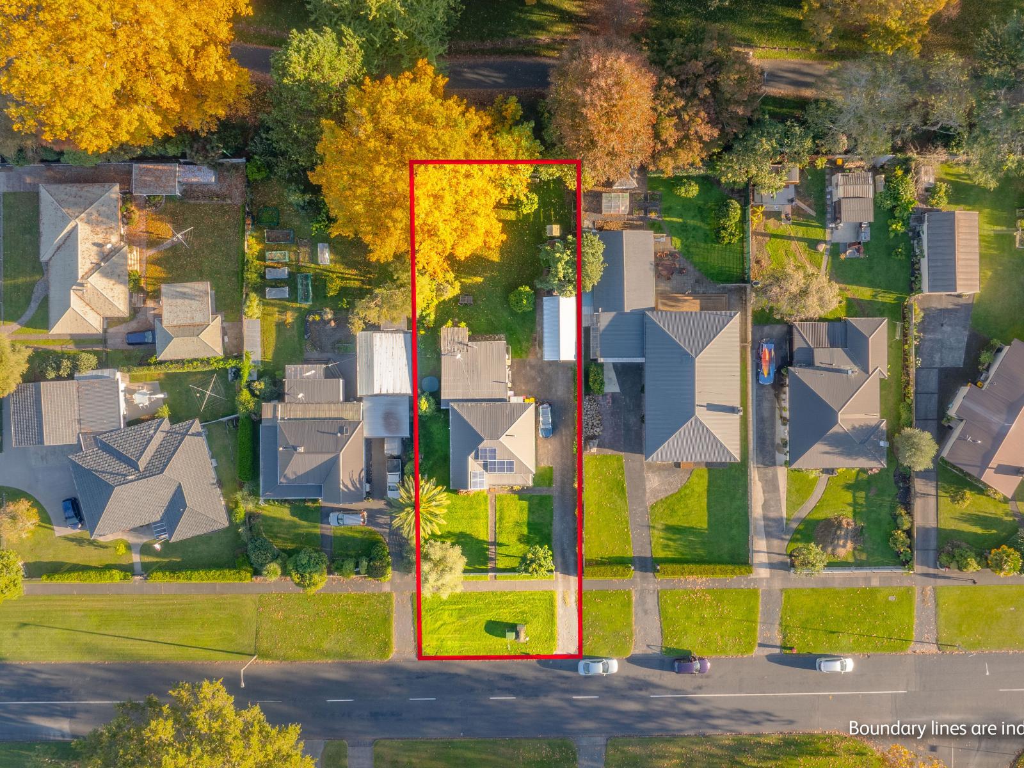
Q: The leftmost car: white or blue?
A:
blue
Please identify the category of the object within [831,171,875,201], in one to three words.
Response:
shed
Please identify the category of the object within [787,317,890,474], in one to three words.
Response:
house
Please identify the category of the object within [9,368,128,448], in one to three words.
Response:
building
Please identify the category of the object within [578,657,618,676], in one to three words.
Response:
car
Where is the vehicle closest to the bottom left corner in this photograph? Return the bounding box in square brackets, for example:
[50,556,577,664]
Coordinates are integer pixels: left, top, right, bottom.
[61,494,86,531]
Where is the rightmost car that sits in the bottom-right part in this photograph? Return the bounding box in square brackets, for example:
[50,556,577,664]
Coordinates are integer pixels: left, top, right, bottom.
[816,656,853,675]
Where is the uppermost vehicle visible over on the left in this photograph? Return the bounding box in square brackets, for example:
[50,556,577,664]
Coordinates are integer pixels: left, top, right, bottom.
[126,329,156,346]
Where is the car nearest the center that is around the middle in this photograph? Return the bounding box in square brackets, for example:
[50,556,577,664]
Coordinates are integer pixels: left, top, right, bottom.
[536,399,554,440]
